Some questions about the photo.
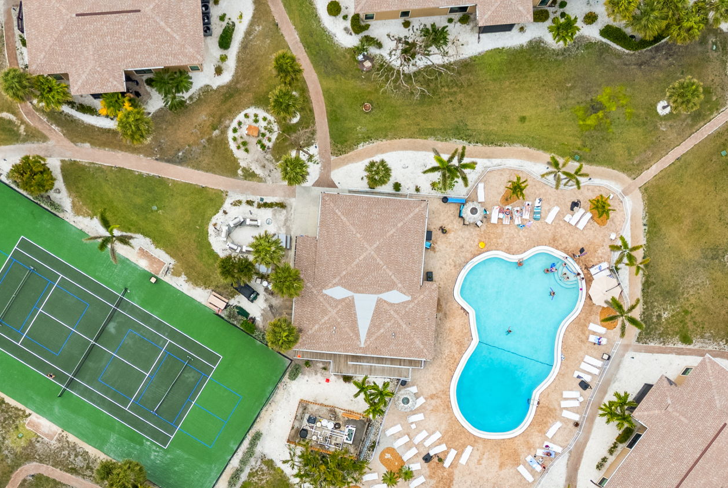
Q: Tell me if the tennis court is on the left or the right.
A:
left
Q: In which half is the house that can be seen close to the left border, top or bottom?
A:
top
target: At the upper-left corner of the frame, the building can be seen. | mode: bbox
[22,0,205,105]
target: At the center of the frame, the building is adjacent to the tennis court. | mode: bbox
[289,193,439,361]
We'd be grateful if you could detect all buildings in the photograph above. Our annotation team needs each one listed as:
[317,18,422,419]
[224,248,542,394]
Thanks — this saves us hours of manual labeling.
[588,351,728,488]
[352,0,554,40]
[22,0,205,105]
[289,193,439,361]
